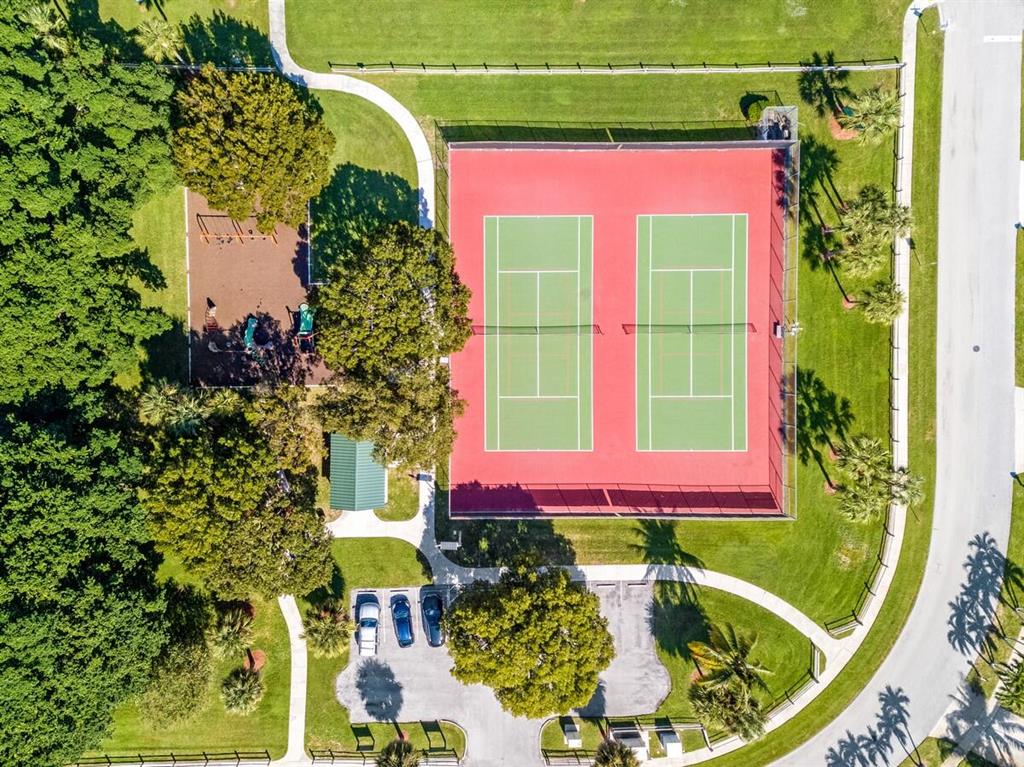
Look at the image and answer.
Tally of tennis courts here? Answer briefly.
2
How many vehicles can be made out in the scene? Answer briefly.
3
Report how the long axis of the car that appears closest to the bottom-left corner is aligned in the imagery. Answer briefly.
up and down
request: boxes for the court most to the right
[636,214,748,452]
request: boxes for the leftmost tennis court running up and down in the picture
[485,215,593,451]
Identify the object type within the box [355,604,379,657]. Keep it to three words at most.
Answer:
car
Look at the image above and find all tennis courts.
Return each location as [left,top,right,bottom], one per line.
[636,214,748,452]
[485,215,593,451]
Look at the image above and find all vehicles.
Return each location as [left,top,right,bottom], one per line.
[355,604,379,657]
[421,597,443,645]
[390,598,413,647]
